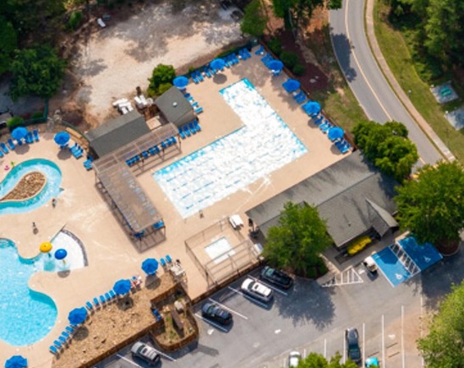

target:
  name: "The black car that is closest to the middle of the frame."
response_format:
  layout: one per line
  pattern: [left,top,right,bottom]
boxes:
[262,268,294,291]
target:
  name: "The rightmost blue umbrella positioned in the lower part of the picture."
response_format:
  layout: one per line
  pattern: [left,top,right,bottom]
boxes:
[140,259,161,278]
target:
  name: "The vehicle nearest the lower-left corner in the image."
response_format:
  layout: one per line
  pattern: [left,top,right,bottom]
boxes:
[130,343,162,367]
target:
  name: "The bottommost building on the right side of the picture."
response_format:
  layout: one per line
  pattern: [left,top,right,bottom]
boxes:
[246,154,404,251]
